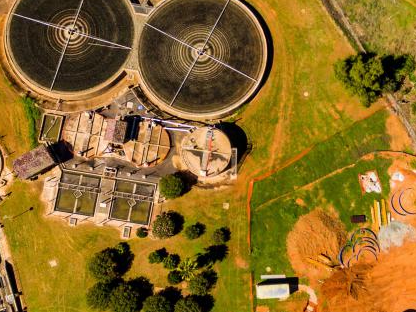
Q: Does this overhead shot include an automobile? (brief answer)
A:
No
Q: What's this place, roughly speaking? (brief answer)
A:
industrial area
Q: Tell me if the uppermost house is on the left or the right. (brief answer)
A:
left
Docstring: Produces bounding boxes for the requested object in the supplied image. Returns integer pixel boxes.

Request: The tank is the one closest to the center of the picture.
[182,126,234,179]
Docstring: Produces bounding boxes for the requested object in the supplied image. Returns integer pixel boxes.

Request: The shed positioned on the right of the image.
[256,281,289,302]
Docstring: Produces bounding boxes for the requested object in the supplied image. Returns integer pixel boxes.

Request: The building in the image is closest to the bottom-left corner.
[12,143,59,180]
